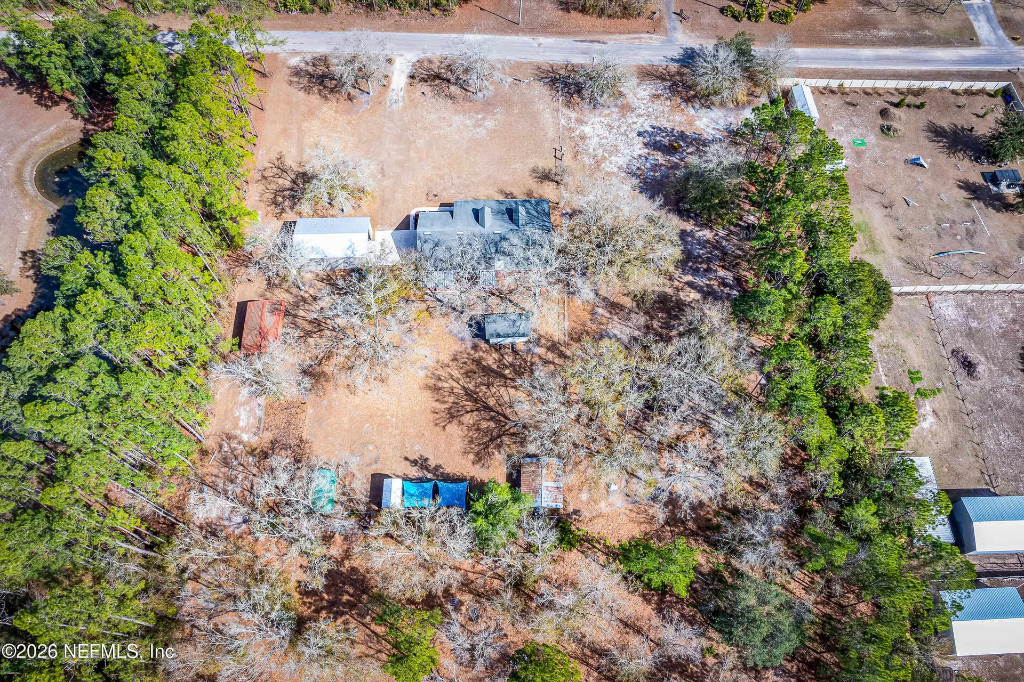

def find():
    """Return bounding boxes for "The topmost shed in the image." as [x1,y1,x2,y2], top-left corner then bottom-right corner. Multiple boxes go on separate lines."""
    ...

[787,82,818,130]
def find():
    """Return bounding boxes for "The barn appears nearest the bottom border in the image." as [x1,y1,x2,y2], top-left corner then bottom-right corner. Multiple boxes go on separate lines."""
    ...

[934,589,1024,658]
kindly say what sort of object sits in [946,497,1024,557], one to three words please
barn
